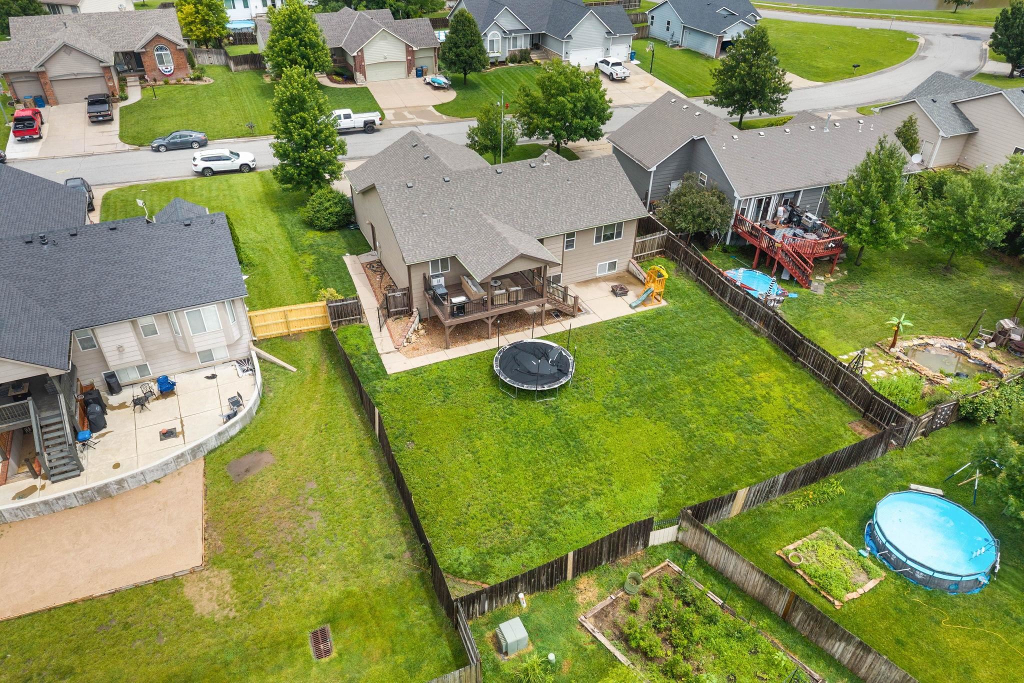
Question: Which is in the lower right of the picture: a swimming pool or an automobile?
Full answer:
The one visible in the lower right of the picture is a swimming pool.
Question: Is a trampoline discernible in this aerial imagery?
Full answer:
Yes, a trampoline appears in the view.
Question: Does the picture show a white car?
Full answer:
Yes, a white car can be made out from above.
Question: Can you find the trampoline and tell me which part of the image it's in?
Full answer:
The trampoline appears toward the center of the photo.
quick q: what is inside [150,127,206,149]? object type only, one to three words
car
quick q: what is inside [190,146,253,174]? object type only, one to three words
car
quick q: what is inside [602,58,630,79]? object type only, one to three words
truck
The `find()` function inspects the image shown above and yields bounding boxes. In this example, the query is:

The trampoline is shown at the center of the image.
[494,322,575,400]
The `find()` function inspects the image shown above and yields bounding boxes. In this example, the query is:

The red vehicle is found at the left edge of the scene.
[9,109,38,137]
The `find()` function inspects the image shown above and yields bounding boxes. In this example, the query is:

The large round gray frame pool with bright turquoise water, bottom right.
[868,491,998,596]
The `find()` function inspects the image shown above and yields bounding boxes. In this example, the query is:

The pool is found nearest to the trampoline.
[729,271,792,308]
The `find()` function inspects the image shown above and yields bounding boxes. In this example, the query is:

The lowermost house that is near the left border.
[0,164,255,390]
